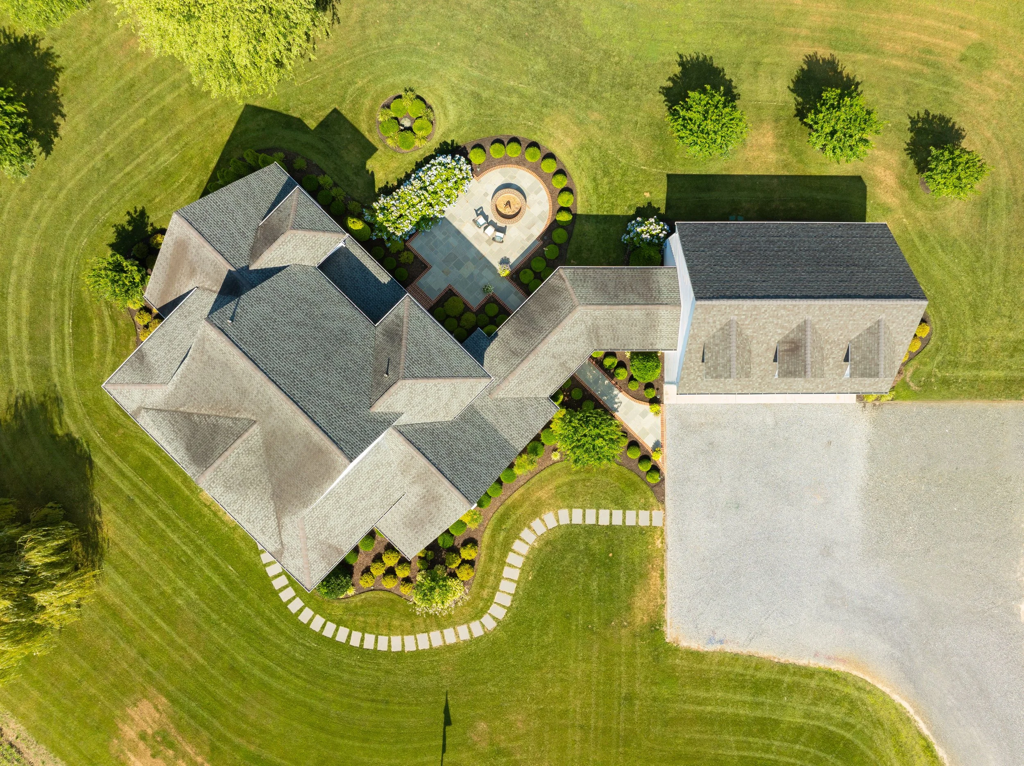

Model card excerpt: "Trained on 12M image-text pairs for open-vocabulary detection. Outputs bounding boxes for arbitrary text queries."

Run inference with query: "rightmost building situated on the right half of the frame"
[664,220,929,396]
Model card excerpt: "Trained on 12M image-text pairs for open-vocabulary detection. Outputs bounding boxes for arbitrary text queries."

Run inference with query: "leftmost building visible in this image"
[100,162,561,594]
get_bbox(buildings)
[664,220,929,396]
[100,162,561,594]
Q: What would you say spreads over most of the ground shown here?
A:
grass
